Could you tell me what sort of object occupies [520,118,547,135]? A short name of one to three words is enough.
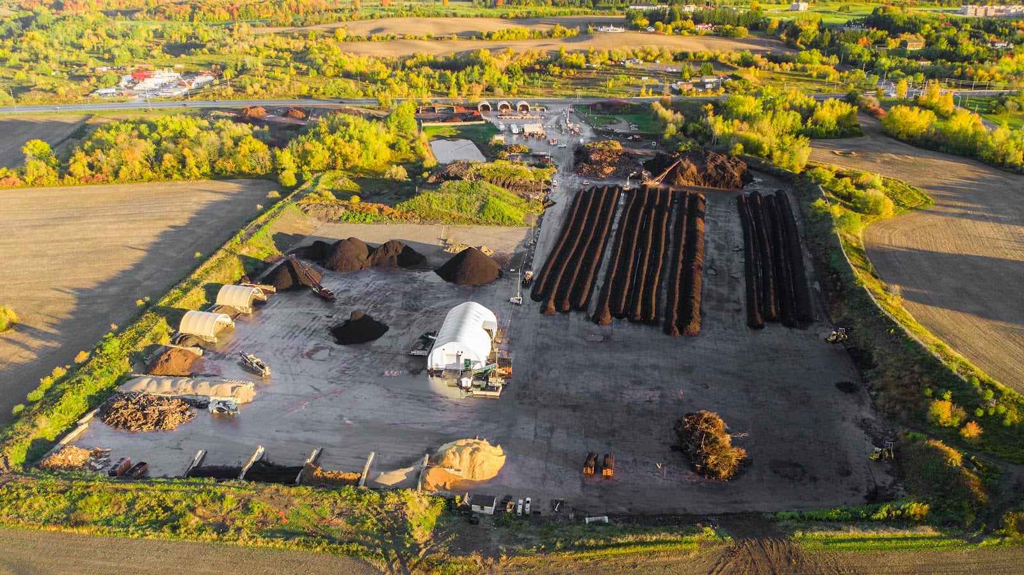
building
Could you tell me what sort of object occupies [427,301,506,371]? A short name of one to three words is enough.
building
